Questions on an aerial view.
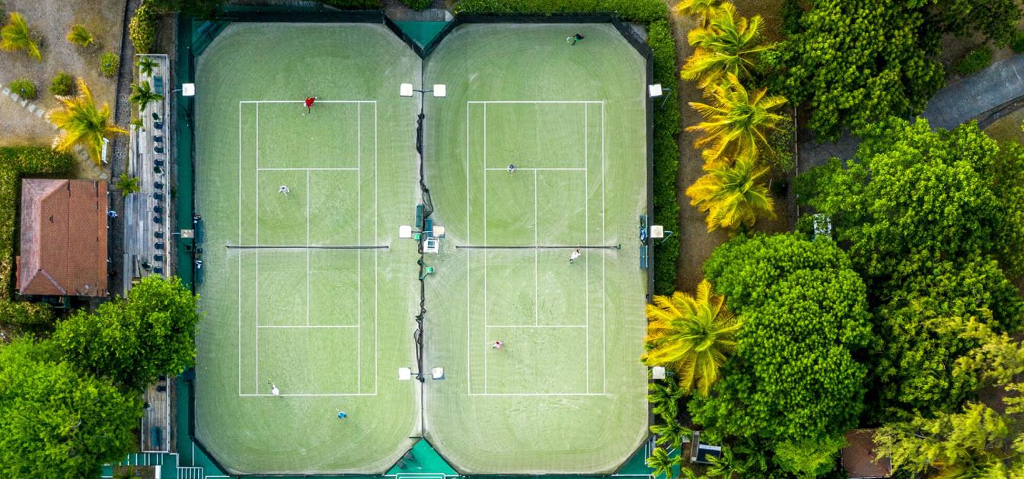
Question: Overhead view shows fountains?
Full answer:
No, there appears to be no fountain in this shot.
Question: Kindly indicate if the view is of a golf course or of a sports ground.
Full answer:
This image shows a sports ground.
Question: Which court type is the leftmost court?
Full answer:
I'd identify the leftmost court as a tennis court.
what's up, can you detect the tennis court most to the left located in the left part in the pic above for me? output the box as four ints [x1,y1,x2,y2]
[194,22,422,475]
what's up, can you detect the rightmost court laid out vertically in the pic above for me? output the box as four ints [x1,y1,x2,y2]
[422,22,648,475]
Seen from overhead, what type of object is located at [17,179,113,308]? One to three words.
house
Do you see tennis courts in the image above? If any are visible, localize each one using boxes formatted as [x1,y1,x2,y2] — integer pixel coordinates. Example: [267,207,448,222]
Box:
[422,22,648,475]
[194,22,422,475]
